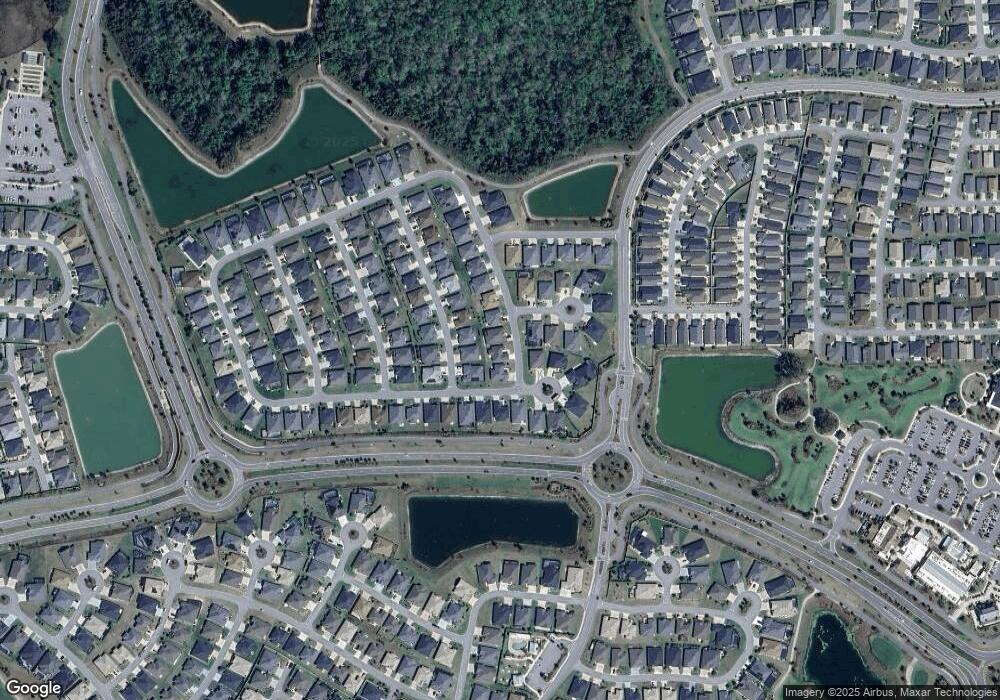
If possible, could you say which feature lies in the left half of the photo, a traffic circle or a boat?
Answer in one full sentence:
Visible in the left half of the photo is a traffic circle.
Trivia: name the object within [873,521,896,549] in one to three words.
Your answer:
building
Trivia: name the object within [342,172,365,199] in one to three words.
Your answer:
house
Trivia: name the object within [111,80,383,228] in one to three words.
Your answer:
pond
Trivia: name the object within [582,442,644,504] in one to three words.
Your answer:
roundabout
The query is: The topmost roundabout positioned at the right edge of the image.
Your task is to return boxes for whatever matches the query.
[966,466,994,494]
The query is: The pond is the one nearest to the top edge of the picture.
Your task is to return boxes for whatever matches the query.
[213,0,312,31]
